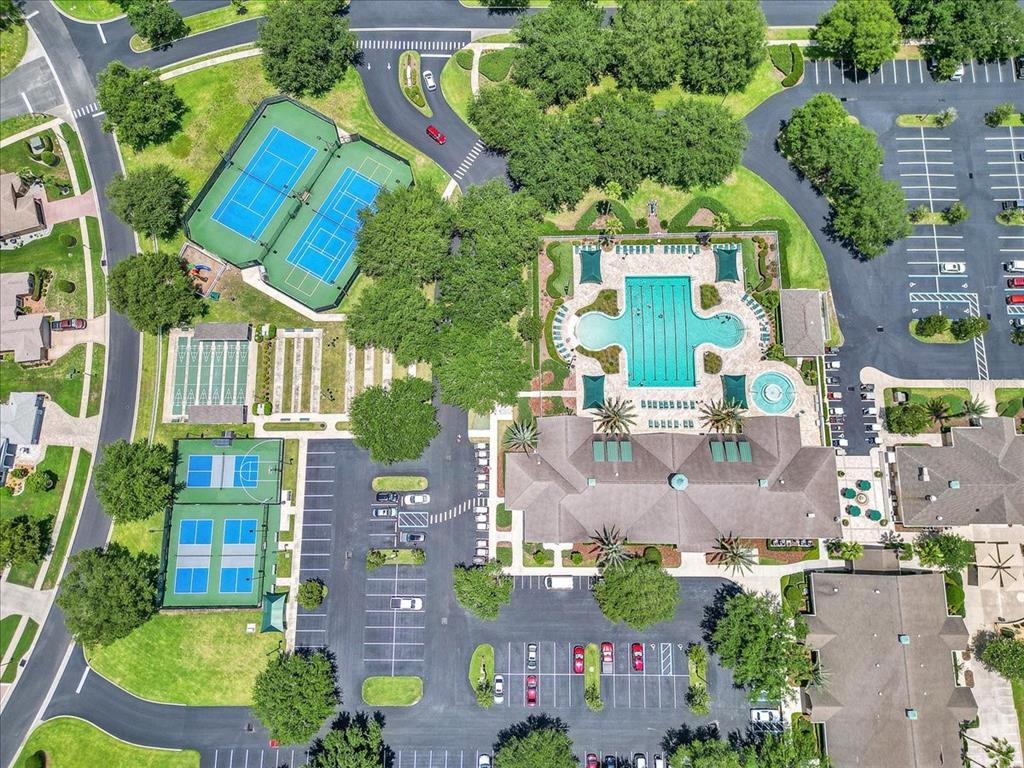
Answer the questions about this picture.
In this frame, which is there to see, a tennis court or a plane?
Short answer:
tennis court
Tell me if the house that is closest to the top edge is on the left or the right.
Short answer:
left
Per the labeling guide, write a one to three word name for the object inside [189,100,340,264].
tennis court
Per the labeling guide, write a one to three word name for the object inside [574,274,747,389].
swimming pool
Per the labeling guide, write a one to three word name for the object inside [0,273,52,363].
house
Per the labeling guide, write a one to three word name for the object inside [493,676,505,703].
vehicle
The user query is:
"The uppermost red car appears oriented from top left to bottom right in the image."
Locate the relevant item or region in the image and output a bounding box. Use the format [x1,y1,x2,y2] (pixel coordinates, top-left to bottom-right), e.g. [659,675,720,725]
[425,123,447,145]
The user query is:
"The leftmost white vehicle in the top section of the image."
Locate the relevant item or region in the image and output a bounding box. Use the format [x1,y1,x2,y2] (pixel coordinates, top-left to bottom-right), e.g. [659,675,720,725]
[422,70,438,92]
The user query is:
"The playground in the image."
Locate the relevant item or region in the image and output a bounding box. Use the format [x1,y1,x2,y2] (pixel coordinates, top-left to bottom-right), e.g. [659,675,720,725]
[177,241,227,298]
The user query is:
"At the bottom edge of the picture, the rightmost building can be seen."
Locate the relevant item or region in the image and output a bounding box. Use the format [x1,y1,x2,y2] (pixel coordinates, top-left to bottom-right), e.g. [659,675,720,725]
[802,572,980,768]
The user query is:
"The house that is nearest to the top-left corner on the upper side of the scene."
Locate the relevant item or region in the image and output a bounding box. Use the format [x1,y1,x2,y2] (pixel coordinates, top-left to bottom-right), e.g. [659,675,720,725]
[0,172,46,242]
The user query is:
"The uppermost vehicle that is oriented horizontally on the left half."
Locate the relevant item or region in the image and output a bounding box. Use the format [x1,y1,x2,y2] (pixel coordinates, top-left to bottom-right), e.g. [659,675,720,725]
[51,318,87,331]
